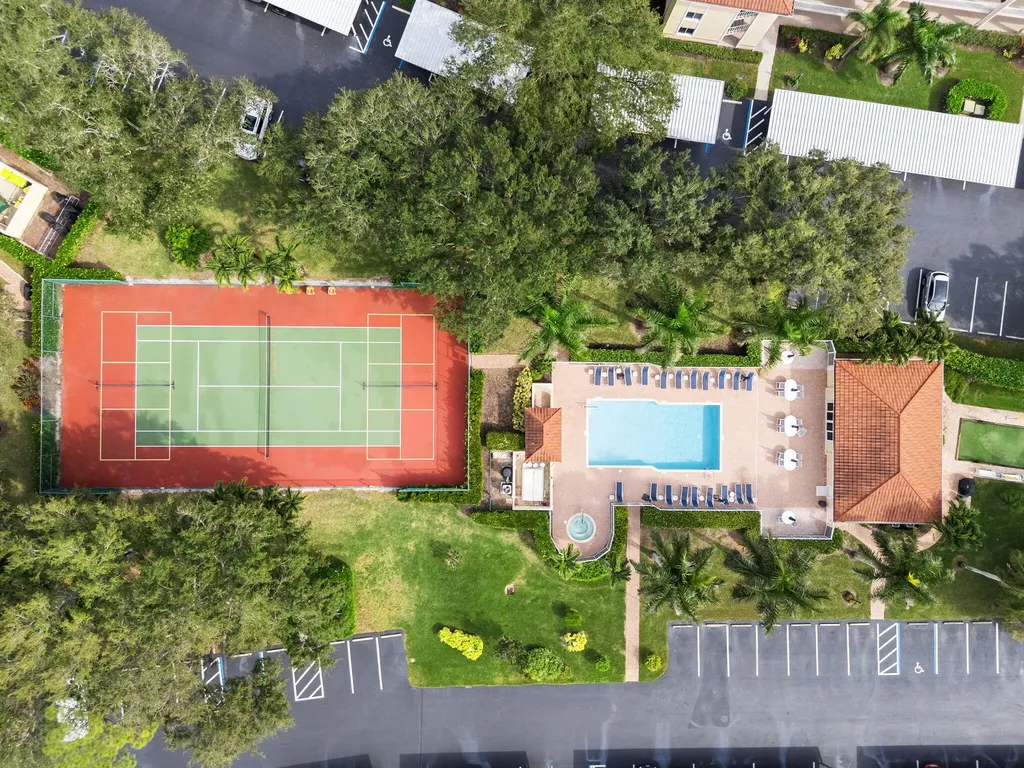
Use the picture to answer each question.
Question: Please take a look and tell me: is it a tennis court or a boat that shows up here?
tennis court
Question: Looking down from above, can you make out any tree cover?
Yes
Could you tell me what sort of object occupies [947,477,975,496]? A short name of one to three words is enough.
umbrella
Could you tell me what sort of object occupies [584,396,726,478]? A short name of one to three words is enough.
swimming pool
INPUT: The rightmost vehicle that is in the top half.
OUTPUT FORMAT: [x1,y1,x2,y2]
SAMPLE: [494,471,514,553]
[916,270,949,323]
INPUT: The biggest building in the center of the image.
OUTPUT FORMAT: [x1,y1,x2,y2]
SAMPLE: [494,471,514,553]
[524,407,563,463]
